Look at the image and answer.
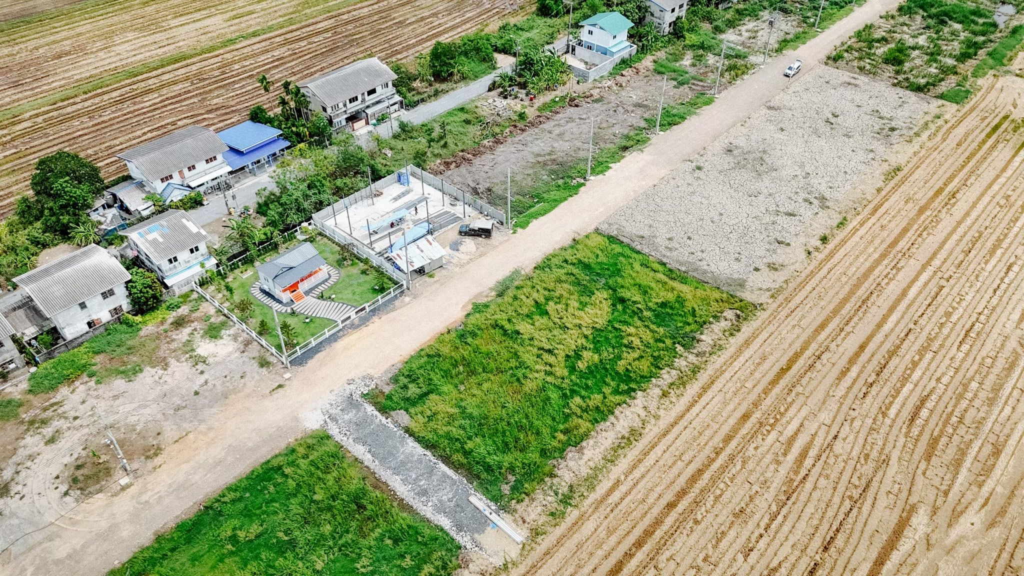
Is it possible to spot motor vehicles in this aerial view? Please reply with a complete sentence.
Yes, a motor vehicle appears in the view.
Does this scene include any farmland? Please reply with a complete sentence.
Yes, some farmland is visible.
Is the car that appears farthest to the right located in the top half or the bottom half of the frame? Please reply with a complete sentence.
You can find the car that appears farthest to the right in the top half.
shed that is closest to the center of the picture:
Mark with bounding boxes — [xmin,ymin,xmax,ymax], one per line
[389,234,449,282]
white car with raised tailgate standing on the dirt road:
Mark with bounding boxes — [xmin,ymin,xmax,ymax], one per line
[786,58,806,78]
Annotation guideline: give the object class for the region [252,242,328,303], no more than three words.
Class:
house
